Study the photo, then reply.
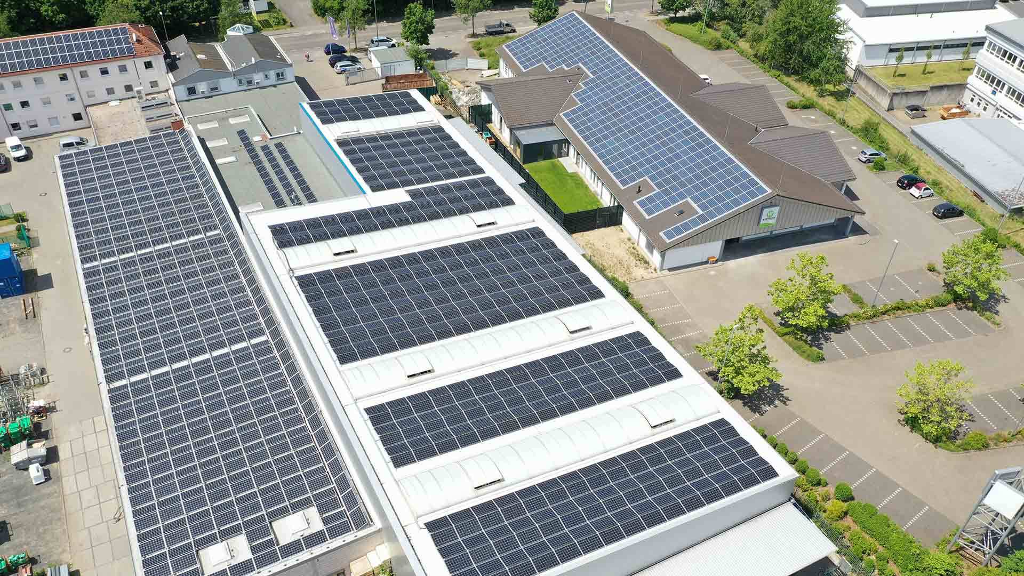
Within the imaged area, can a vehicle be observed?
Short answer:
Yes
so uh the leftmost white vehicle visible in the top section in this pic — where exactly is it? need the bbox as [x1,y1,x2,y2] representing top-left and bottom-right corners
[3,134,27,160]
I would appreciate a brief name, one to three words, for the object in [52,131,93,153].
vehicle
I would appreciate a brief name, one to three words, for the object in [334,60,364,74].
car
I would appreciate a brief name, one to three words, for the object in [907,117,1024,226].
building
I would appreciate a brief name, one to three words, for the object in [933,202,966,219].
car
